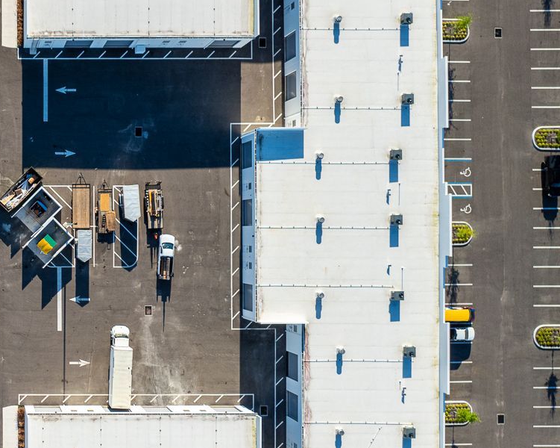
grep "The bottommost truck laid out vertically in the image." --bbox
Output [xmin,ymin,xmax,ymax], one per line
[111,329,134,408]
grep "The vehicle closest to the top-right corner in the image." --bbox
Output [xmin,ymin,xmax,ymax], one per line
[540,154,560,194]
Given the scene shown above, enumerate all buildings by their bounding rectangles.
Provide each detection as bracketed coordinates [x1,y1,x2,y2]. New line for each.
[239,0,451,448]
[22,402,258,448]
[22,0,258,51]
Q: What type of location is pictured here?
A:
parking lot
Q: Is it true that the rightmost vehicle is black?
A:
Yes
